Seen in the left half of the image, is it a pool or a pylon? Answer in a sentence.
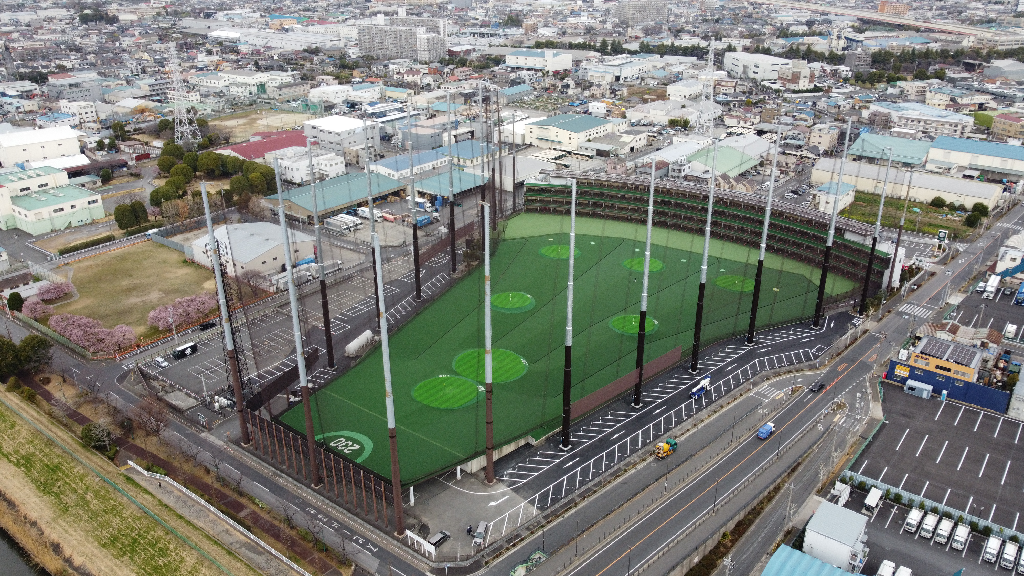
It is a pylon that can be seen in the left half of the image.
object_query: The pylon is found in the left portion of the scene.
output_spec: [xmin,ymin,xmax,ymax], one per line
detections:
[169,42,203,144]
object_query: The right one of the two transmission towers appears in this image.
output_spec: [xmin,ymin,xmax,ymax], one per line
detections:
[686,37,722,136]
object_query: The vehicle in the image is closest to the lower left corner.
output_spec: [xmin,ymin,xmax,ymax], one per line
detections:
[156,355,168,368]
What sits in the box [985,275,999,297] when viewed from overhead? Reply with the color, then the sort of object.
white vehicle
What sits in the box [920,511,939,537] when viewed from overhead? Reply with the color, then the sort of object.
white vehicle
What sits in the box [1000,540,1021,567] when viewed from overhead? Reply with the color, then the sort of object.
white truck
